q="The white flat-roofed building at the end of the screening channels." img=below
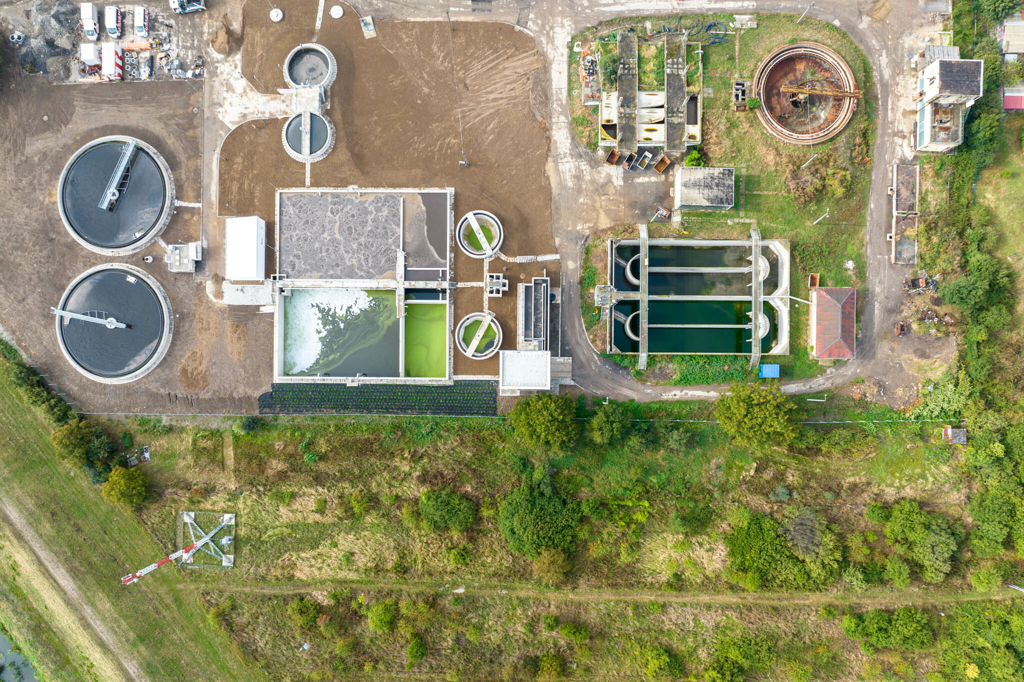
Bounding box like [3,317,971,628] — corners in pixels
[500,351,550,395]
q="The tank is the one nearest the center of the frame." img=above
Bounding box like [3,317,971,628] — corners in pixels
[455,308,502,360]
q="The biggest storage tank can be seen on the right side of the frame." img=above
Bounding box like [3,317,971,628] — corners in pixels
[595,224,789,369]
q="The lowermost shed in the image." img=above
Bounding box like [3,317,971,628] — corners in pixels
[938,428,967,444]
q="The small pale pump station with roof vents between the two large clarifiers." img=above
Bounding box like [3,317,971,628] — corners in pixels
[165,242,204,273]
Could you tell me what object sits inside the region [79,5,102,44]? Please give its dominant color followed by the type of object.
white vehicle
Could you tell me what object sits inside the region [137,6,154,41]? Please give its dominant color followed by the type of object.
white vehicle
